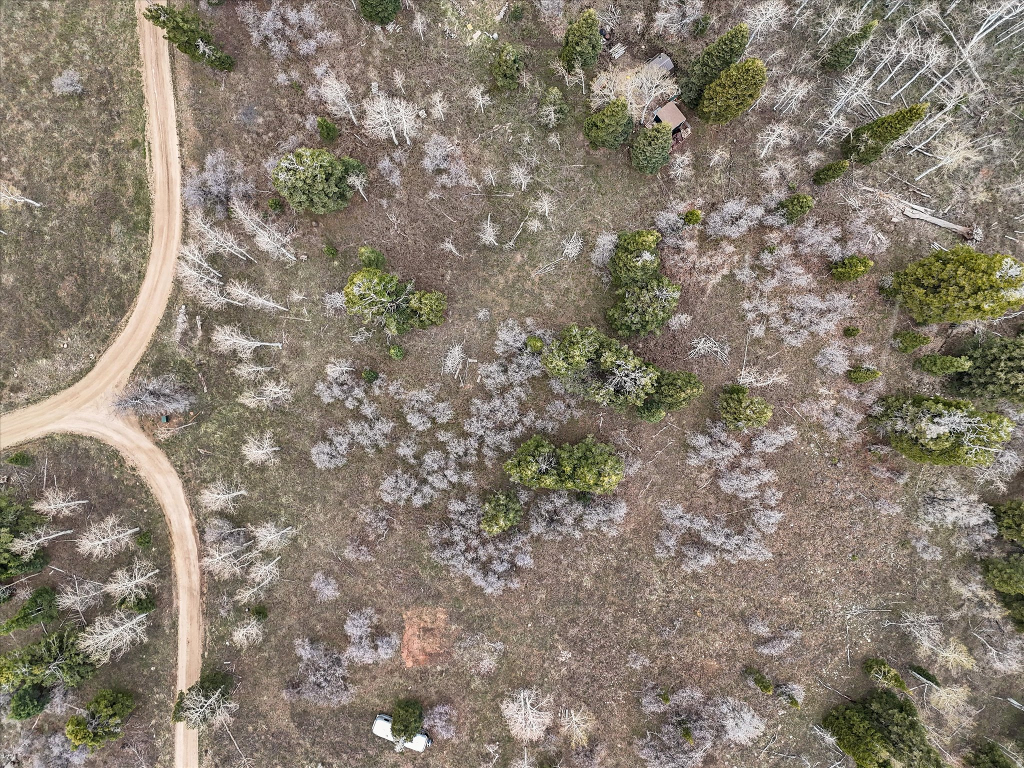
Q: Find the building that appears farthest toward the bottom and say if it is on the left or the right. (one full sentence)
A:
It is on the right.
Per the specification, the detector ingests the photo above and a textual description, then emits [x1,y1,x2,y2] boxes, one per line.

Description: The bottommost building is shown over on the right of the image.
[655,102,686,133]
